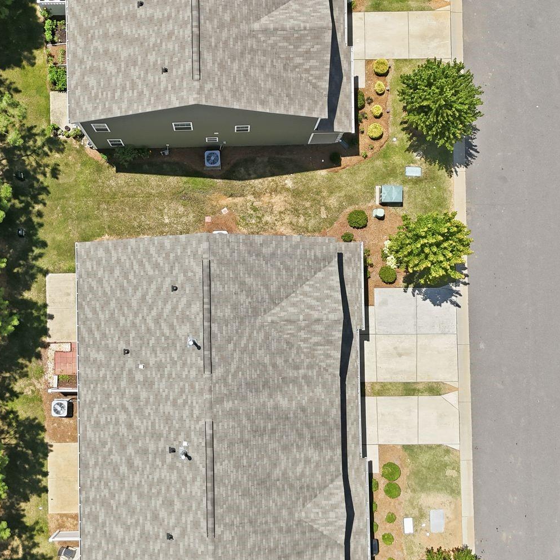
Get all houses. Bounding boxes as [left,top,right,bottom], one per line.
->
[66,0,356,148]
[74,233,371,560]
